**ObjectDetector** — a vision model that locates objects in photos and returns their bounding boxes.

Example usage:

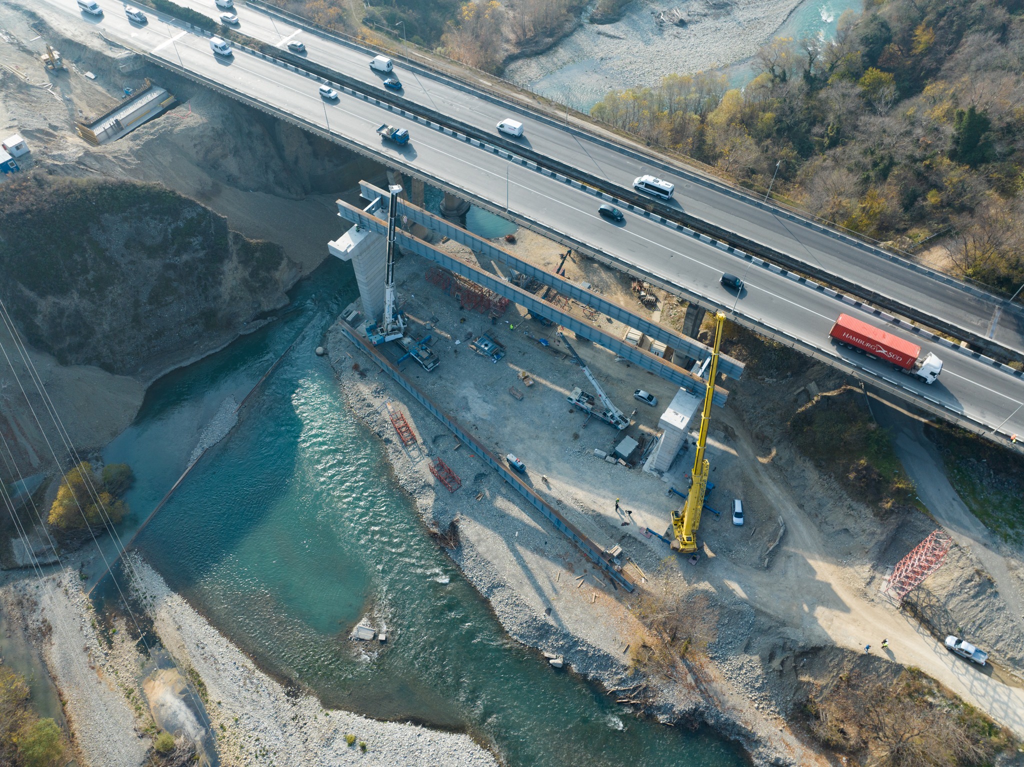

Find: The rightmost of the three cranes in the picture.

[642,311,729,565]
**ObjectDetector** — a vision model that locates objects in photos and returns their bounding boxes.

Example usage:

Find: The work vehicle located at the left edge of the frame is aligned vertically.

[40,34,61,75]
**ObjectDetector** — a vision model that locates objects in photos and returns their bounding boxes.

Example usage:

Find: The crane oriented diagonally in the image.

[553,331,636,439]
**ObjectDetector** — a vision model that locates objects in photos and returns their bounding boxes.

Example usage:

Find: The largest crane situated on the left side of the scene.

[364,182,443,375]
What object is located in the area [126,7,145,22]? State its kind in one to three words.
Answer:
car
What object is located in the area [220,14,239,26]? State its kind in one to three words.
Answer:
vehicle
